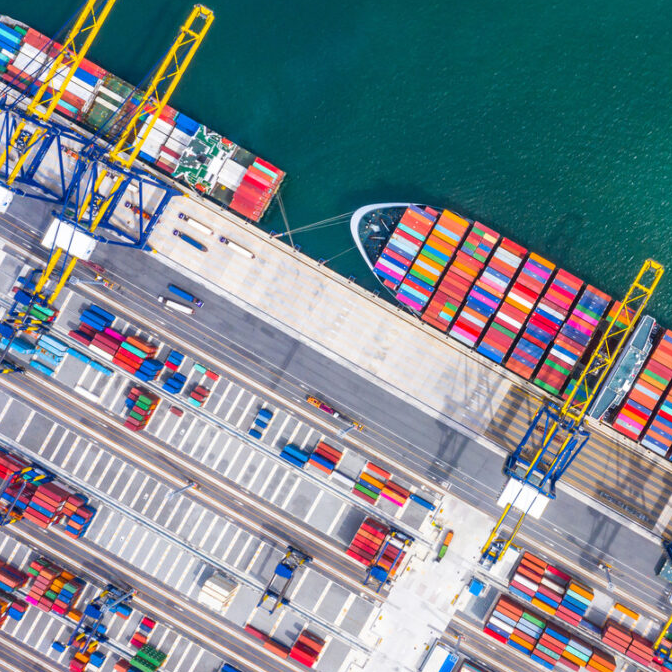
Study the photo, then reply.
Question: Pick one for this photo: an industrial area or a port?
port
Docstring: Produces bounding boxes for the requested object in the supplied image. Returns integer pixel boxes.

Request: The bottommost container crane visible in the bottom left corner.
[60,584,133,656]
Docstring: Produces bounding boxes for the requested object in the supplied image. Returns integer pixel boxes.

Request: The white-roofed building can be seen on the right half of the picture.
[421,641,459,672]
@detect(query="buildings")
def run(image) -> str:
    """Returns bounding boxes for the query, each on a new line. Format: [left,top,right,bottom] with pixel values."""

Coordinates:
[463,573,489,596]
[421,641,459,672]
